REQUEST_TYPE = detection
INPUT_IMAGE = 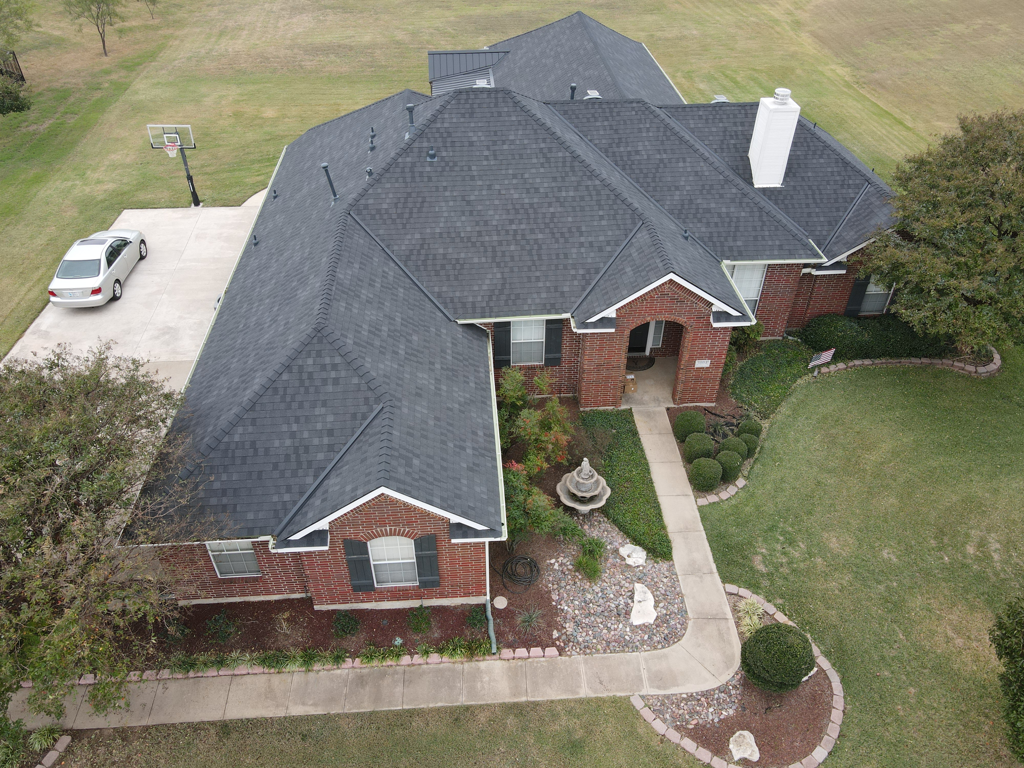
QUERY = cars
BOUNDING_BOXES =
[47,229,145,309]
